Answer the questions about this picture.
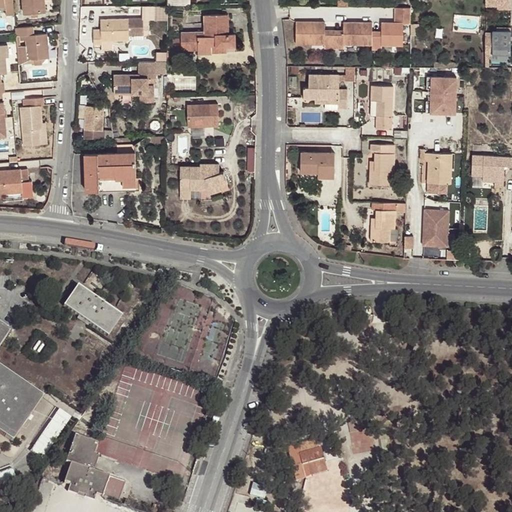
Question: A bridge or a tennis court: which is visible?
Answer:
tennis court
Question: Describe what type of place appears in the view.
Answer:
residential area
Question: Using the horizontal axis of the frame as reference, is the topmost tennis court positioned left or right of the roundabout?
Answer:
to its left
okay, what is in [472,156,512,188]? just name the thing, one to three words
house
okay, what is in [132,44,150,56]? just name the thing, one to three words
swimming pool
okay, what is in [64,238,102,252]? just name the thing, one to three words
vehicle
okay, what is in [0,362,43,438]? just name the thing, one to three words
building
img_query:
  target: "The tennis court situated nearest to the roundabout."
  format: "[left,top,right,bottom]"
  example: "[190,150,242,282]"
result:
[138,285,232,379]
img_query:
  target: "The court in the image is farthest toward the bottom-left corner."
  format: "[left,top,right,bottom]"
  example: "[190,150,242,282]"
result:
[97,366,204,476]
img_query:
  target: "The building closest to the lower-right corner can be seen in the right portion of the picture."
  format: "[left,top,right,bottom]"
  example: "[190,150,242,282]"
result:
[288,439,328,480]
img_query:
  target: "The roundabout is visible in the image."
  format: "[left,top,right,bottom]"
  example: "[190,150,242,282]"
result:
[254,250,304,301]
